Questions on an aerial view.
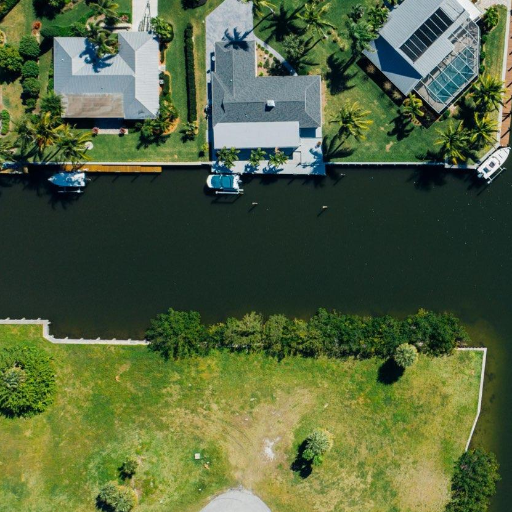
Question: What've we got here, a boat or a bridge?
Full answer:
The one in the frame is a boat.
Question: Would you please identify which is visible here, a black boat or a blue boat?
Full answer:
I can see a blue boat in this picture.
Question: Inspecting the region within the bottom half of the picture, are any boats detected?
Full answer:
No, looking within the bottom half of the picture, there is no boat.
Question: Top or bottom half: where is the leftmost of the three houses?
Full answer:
The leftmost of the three houses sits in the top half of the picture.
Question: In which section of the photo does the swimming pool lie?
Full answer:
You can find the swimming pool in the top right area of the picture.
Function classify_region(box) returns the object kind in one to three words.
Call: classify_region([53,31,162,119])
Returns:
house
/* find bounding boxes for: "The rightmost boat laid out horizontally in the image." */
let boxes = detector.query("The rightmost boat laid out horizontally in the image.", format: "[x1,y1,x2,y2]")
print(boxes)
[205,173,242,190]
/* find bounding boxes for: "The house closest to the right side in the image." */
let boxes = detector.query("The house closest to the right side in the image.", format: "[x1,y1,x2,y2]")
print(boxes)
[363,0,482,96]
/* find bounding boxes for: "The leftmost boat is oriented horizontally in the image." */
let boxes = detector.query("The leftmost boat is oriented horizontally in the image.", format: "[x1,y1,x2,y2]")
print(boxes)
[45,172,90,185]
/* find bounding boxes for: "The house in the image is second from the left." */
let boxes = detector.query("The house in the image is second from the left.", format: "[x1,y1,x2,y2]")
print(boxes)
[212,40,322,148]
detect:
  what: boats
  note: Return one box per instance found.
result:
[45,172,90,185]
[477,146,511,179]
[205,173,242,190]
